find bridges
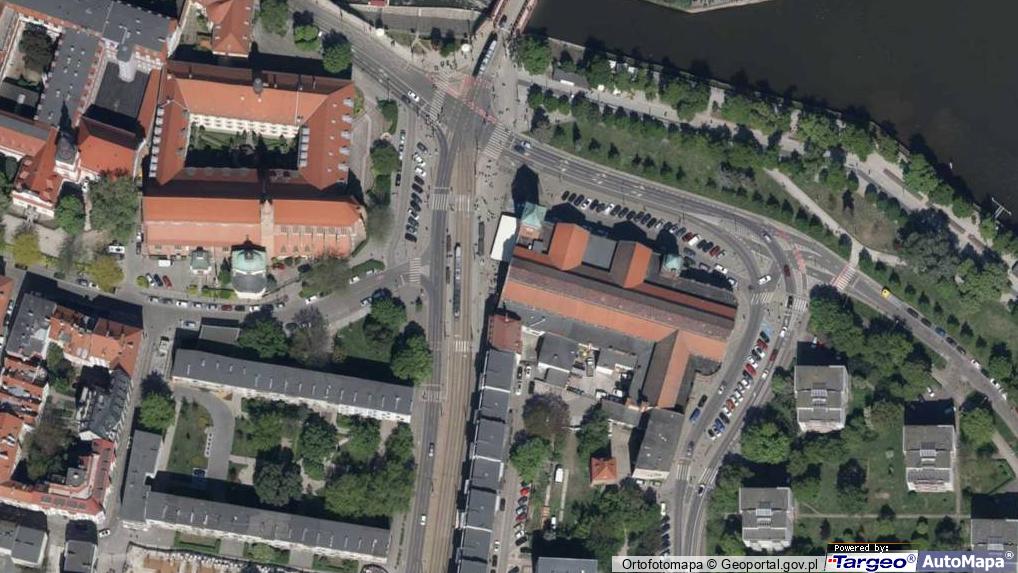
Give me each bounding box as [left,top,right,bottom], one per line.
[491,0,538,41]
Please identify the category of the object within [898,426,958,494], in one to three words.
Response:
building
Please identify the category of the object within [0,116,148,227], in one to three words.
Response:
building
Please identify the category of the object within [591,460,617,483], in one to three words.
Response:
house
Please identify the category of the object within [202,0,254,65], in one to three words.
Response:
house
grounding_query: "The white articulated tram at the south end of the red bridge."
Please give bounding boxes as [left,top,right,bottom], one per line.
[478,40,496,78]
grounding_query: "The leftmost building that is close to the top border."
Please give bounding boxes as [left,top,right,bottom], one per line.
[0,0,191,127]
